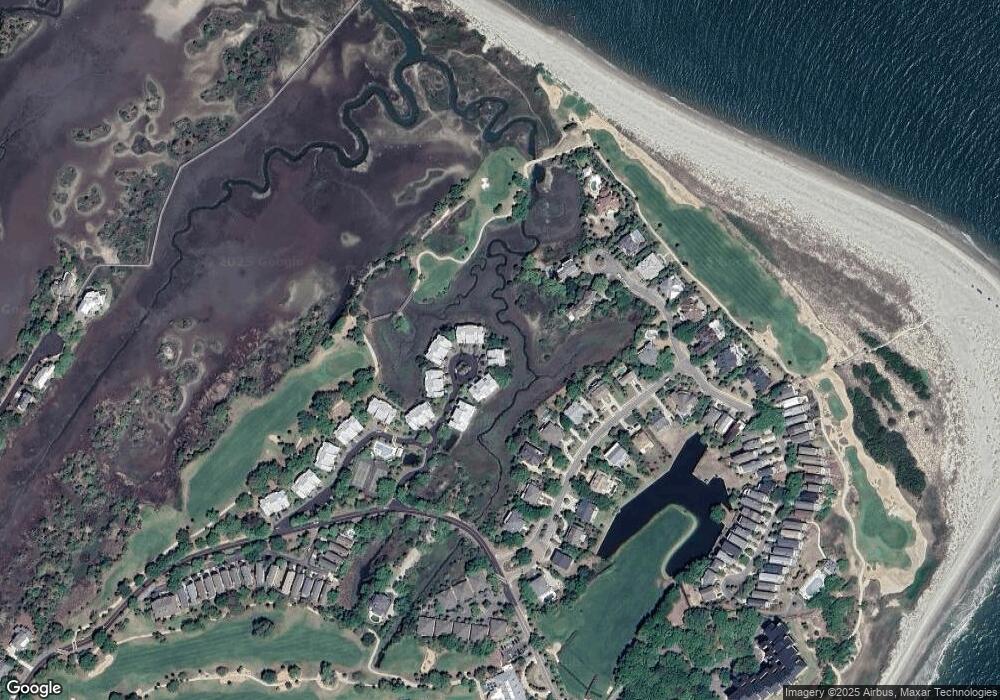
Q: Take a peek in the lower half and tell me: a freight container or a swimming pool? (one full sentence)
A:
Looking in the lower half, you will find a swimming pool.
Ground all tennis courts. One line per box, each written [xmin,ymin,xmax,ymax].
[352,458,372,491]
[366,465,389,494]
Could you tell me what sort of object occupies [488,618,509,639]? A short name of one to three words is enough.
building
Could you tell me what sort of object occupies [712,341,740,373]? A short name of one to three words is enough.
house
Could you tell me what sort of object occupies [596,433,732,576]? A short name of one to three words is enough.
pond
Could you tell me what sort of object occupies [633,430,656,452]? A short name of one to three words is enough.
house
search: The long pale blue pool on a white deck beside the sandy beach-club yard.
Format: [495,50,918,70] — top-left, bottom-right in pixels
[800,569,825,598]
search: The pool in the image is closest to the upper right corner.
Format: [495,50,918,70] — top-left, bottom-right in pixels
[588,174,602,197]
